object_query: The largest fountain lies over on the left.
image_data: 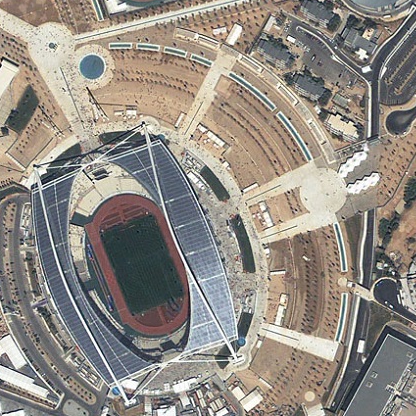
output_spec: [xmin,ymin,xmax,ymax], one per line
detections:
[78,55,106,81]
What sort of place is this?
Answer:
sports ground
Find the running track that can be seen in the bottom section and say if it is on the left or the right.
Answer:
left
